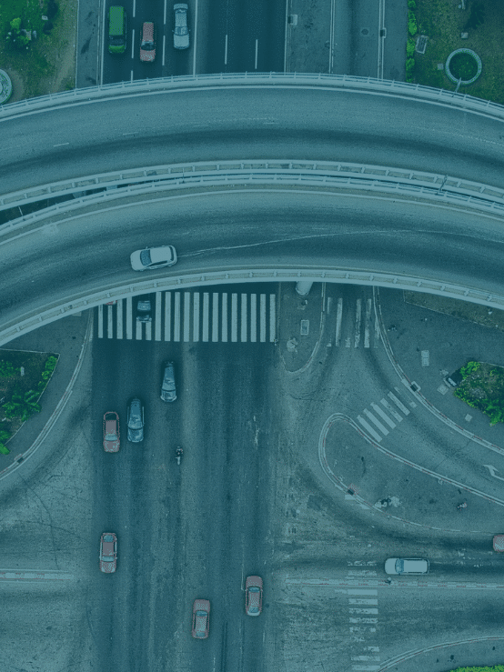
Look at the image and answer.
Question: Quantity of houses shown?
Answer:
zero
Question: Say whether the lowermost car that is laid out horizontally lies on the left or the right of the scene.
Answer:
right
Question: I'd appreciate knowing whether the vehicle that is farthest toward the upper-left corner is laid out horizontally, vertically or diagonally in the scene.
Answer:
vertically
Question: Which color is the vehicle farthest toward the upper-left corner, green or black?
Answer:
green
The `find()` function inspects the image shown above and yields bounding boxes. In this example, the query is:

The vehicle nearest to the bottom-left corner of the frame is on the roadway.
[98,532,117,574]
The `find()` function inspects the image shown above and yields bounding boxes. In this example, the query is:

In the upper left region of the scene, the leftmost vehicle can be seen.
[106,1,126,50]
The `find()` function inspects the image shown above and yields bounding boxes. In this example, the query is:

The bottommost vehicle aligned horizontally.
[386,556,429,576]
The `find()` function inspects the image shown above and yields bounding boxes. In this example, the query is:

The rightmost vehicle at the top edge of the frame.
[171,2,190,45]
